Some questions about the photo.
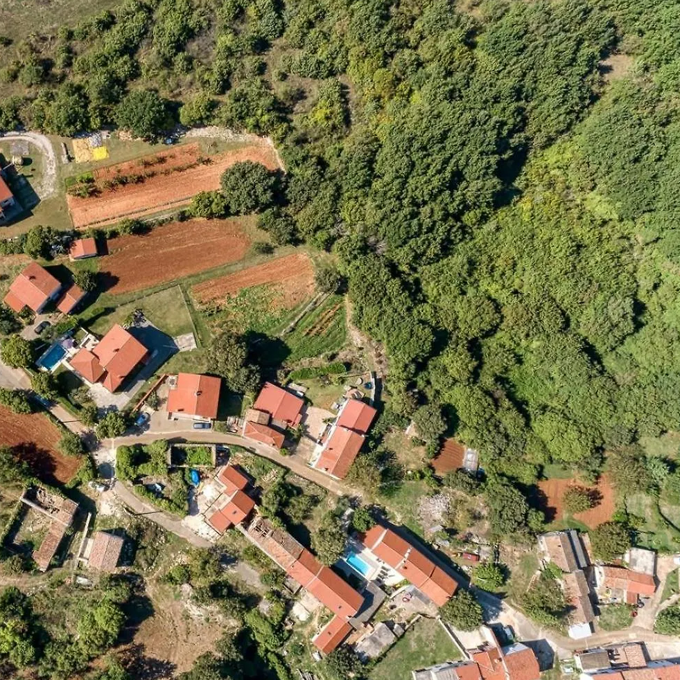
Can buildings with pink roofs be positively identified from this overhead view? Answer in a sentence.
Yes, a building with a pink roof is visible in the scene.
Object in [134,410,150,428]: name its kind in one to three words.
car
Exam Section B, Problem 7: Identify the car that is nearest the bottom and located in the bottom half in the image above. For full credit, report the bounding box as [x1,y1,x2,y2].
[502,623,518,644]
